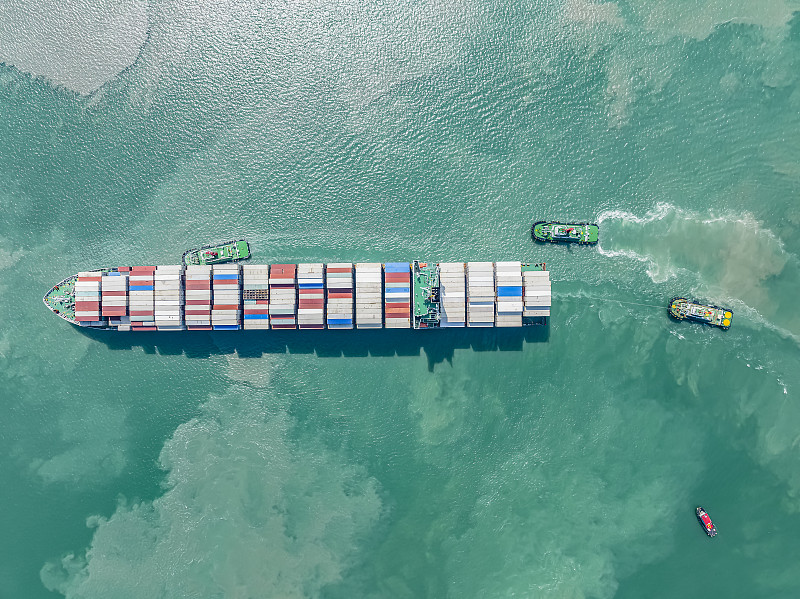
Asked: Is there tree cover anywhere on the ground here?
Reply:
No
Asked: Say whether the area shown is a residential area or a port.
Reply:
port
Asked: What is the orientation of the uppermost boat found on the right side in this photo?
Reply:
horizontally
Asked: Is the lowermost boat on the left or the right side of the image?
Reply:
right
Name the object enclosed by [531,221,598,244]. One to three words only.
boat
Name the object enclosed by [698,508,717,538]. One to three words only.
boat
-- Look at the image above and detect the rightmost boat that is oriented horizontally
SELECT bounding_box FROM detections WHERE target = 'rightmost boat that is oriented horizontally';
[666,298,733,330]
